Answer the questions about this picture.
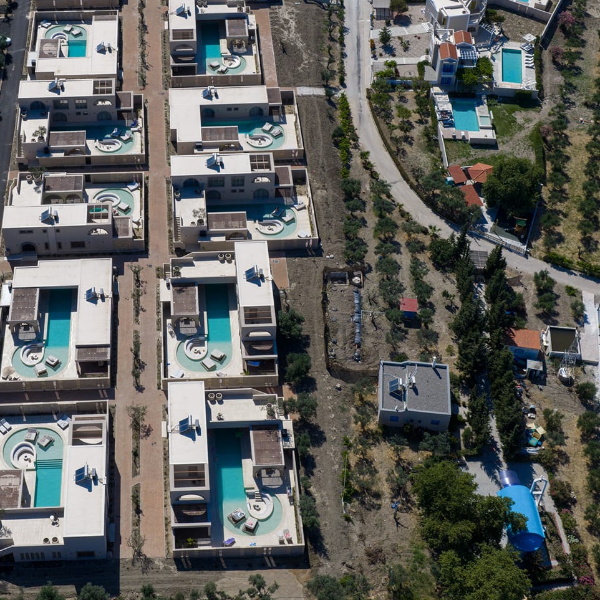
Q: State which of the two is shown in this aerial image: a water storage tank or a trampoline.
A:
water storage tank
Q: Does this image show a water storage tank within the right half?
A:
Yes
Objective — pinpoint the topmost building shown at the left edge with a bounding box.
[28,12,118,88]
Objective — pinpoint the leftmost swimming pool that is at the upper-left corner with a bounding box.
[42,22,88,57]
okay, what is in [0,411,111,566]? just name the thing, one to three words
house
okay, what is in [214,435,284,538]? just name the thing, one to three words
swimming pool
